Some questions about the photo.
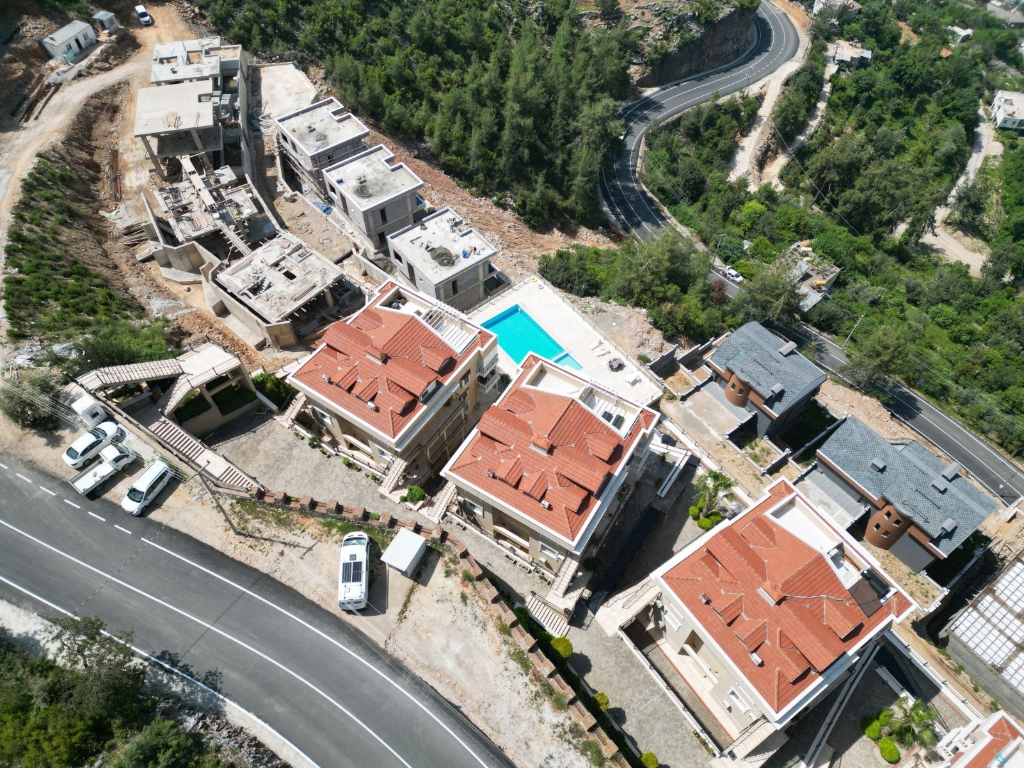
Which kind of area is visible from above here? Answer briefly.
residential area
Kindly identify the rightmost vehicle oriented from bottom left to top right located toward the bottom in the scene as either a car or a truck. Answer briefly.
car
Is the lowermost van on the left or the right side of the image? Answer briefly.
left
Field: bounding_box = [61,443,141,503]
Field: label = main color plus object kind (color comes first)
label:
white truck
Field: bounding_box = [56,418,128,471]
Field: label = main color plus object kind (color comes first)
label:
white car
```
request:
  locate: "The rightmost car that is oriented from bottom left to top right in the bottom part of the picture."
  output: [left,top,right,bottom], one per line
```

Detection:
[119,456,180,519]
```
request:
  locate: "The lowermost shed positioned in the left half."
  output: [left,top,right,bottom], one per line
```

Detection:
[381,528,427,583]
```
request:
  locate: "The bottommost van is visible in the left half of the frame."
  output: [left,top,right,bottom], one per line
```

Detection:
[335,533,372,618]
